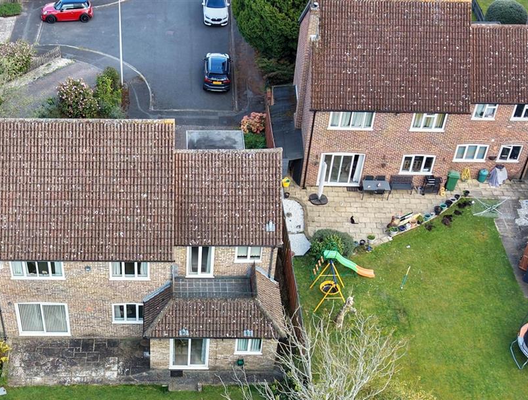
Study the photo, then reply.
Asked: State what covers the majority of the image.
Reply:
buildings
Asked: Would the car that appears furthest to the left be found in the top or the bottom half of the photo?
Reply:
top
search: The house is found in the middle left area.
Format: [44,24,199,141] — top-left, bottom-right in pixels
[0,114,287,368]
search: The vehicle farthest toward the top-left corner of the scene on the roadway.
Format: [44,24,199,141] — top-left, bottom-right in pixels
[39,0,96,26]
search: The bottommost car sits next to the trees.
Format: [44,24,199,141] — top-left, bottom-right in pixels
[199,49,234,91]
